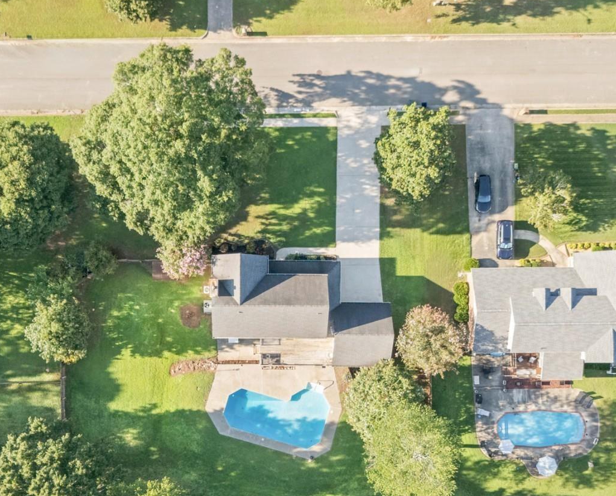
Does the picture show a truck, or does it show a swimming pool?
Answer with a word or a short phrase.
swimming pool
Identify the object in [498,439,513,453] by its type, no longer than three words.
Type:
umbrella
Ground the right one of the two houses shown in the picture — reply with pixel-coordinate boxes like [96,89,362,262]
[468,250,616,380]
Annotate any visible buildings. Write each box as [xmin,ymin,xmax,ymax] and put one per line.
[468,250,616,380]
[209,253,394,366]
